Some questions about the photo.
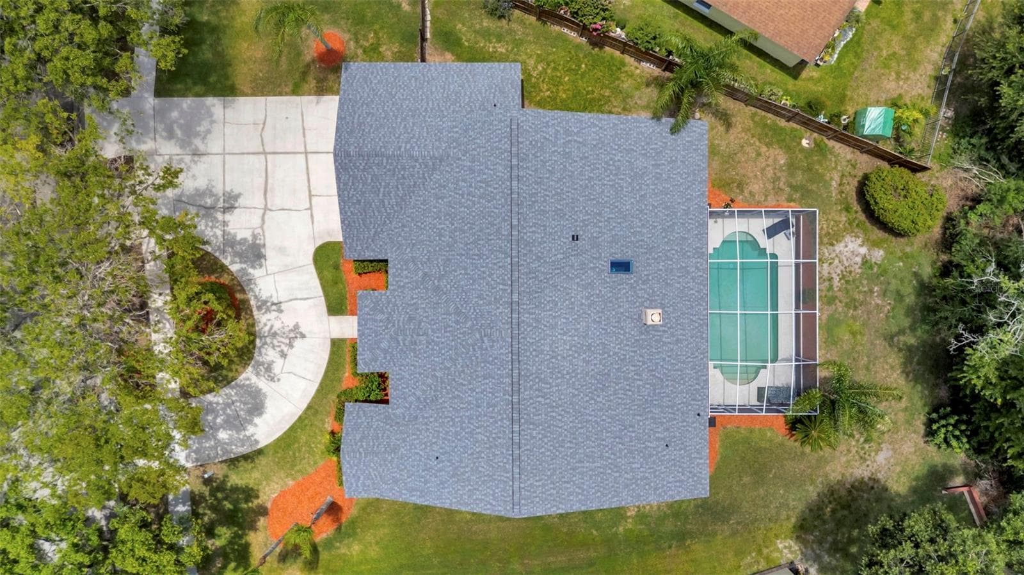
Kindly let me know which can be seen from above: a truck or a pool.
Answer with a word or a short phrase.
pool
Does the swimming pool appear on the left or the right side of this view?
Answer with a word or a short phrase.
right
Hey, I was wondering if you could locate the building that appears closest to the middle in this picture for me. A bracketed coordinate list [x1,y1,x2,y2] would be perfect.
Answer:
[333,61,709,518]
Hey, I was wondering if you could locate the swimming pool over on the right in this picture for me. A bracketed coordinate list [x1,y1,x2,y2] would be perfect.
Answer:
[711,230,780,386]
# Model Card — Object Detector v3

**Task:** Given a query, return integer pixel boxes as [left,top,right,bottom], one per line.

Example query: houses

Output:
[680,0,852,66]
[333,61,709,518]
